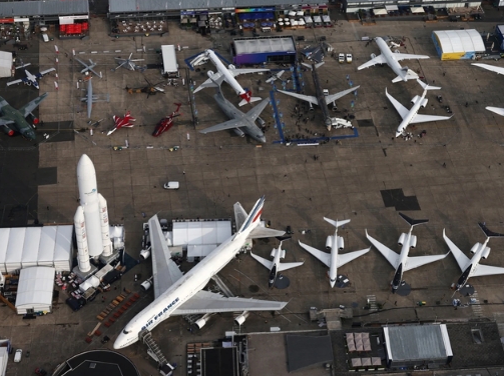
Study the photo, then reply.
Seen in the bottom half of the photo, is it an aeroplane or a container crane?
aeroplane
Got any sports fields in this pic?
No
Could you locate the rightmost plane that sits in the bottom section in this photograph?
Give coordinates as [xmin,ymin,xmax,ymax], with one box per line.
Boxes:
[442,222,504,291]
